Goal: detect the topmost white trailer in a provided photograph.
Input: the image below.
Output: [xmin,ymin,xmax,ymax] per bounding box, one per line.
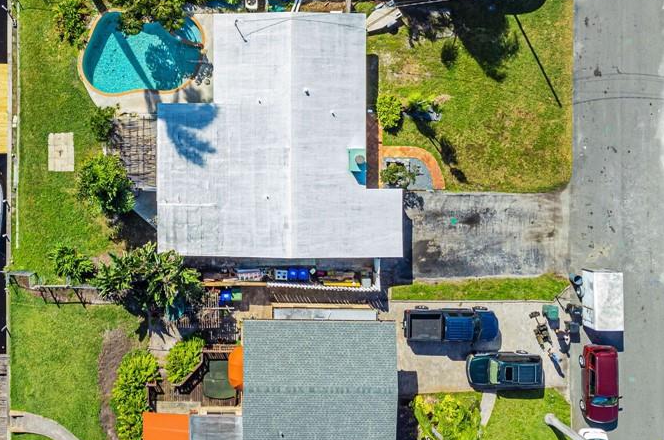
[575,249,624,331]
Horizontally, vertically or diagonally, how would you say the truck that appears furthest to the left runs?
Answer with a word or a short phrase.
horizontally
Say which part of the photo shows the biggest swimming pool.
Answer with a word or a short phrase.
top left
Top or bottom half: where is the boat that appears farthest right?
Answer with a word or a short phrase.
top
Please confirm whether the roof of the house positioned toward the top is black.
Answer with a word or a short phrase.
No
